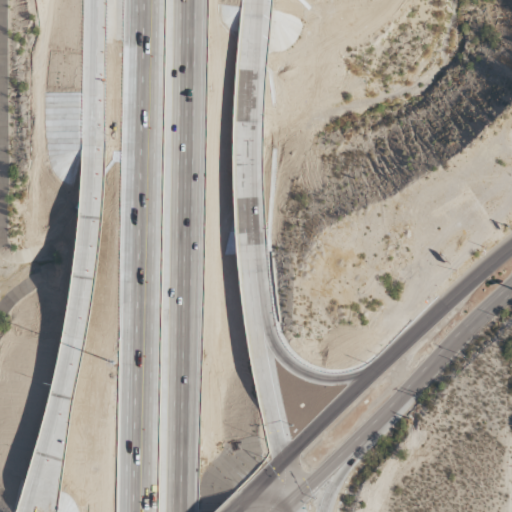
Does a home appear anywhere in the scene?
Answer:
No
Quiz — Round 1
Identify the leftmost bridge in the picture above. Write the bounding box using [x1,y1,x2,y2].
[16,0,106,512]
